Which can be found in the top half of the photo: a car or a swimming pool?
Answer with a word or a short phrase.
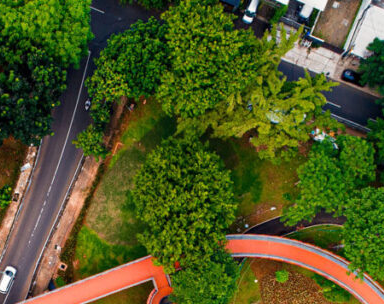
car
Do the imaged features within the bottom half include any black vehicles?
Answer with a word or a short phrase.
No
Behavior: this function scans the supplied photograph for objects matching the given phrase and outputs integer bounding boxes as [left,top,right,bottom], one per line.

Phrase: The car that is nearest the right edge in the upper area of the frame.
[341,69,368,88]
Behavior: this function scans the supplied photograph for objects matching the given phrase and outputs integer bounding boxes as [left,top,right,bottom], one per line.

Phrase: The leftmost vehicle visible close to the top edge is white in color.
[241,0,262,24]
